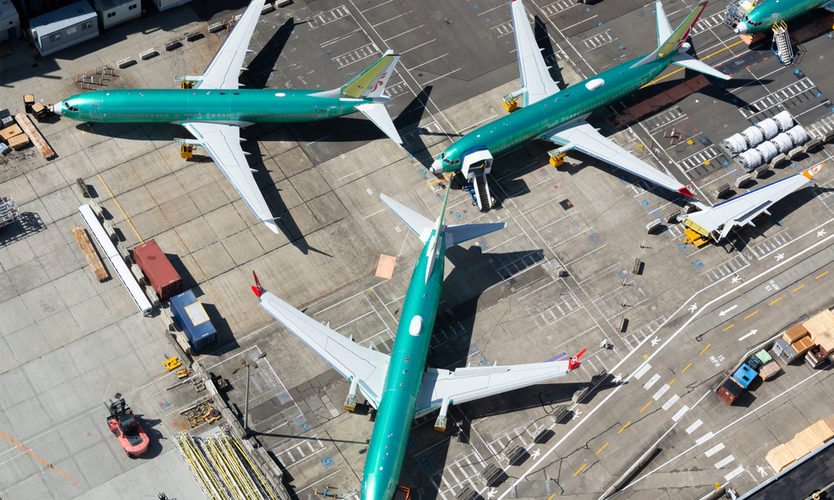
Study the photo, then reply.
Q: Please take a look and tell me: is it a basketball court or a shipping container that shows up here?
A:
shipping container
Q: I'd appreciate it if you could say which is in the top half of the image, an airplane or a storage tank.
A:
airplane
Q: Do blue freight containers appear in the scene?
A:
Yes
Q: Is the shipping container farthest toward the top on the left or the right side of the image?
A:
left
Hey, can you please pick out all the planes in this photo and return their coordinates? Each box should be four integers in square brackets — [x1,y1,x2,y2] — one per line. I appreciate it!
[55,0,405,234]
[430,0,734,197]
[252,174,587,500]
[736,0,834,38]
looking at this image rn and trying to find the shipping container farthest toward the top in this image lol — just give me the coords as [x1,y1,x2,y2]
[134,239,181,301]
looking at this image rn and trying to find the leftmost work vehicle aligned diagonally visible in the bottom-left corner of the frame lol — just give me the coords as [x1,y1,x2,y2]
[103,398,149,451]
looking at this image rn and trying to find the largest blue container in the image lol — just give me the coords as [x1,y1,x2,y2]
[169,290,217,353]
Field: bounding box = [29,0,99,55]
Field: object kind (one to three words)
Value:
trailer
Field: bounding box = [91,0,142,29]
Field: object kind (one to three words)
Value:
trailer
